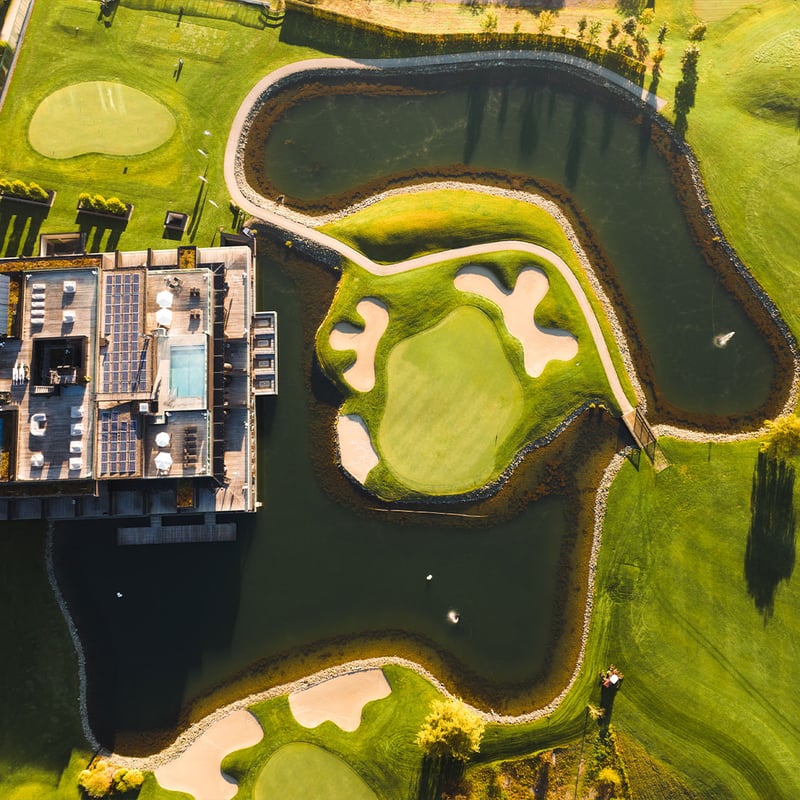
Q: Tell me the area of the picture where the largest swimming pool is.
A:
left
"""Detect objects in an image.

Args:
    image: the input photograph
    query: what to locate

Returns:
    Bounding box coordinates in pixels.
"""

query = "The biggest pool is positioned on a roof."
[149,336,211,427]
